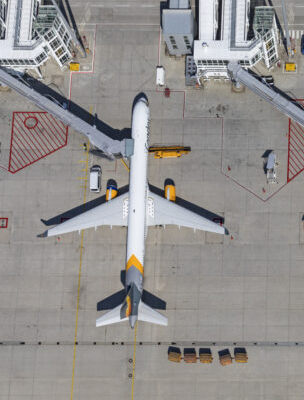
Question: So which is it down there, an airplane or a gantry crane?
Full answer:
This aerial view contains an airplane.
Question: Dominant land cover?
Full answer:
For the most part, this view shows paved ground.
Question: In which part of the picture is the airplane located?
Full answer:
The airplane is in the center part of the image.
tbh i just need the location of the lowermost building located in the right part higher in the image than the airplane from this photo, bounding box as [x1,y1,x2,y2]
[194,35,269,95]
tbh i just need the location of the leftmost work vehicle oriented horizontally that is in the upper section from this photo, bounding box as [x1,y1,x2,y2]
[149,146,191,162]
